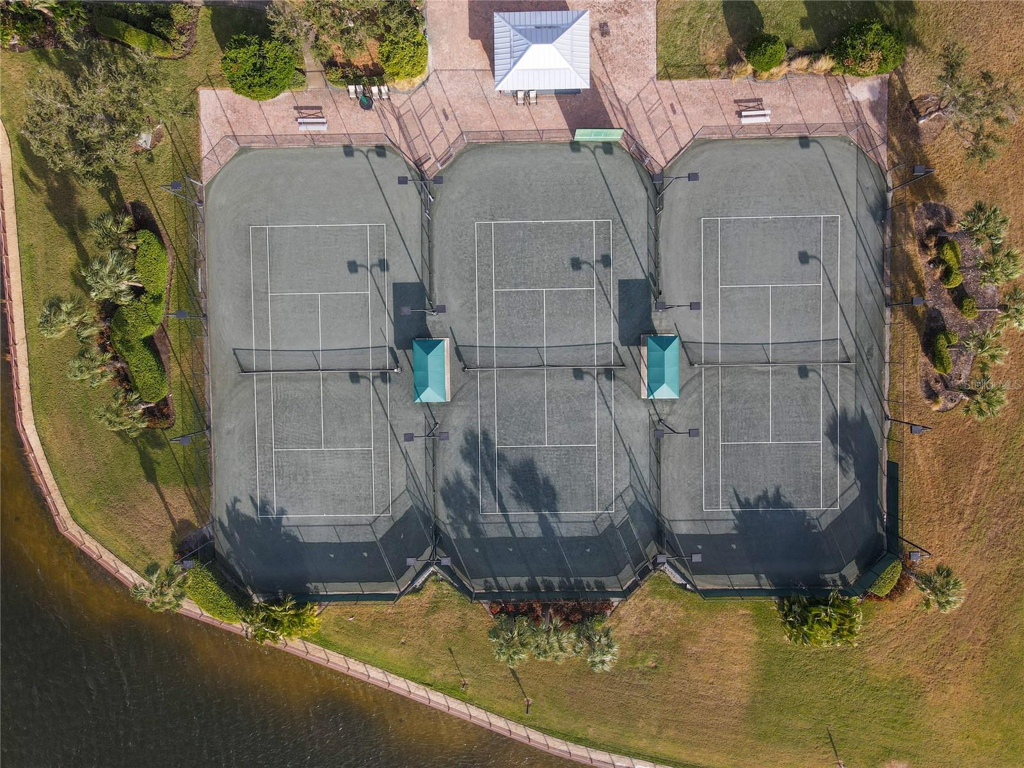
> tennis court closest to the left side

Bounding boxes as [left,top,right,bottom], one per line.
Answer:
[203,143,436,593]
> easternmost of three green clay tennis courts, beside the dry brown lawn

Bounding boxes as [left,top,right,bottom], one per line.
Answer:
[660,134,888,587]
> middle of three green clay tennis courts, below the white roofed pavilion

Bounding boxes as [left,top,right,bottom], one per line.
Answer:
[426,141,662,591]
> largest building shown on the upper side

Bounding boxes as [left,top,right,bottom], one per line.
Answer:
[493,10,590,96]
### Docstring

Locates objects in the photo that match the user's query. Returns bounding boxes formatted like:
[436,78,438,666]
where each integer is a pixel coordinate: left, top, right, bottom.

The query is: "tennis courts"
[660,134,888,587]
[426,141,662,591]
[203,143,436,593]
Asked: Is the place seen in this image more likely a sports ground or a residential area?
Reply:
sports ground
